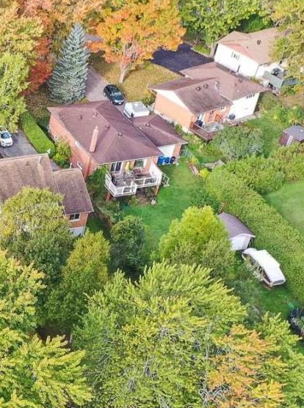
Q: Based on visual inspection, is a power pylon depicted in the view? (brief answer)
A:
No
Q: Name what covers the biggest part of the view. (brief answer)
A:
trees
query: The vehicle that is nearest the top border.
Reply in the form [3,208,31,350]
[106,79,126,101]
